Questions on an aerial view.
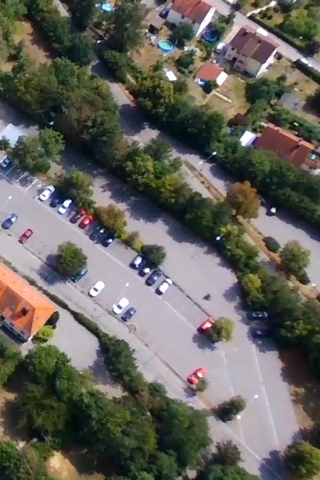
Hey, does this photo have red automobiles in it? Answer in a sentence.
Yes, this view includes a red automobile.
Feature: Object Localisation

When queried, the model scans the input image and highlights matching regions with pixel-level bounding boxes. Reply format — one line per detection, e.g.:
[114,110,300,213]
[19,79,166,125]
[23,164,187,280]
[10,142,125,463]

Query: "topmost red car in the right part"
[196,317,215,335]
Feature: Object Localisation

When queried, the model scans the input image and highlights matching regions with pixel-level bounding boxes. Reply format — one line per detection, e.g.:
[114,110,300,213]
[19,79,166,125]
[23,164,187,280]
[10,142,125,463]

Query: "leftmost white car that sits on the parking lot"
[37,185,55,202]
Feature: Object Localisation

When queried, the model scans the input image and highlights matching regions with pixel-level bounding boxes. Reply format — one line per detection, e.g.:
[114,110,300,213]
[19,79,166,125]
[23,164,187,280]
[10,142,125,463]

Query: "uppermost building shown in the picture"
[168,0,221,29]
